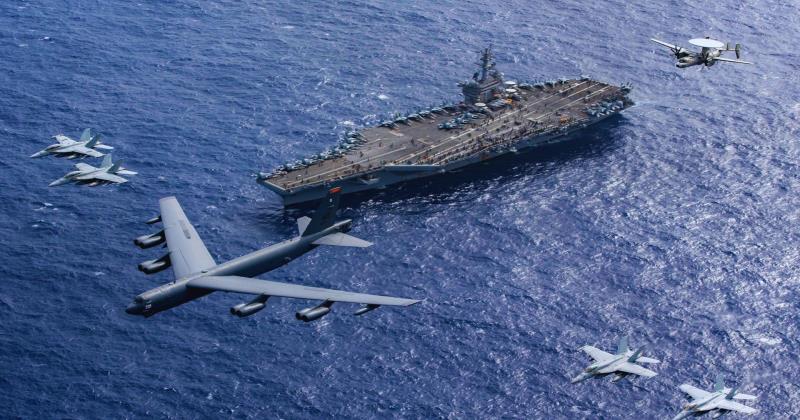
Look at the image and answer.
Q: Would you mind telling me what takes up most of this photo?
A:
water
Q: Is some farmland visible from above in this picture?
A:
No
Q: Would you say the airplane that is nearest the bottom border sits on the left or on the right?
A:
right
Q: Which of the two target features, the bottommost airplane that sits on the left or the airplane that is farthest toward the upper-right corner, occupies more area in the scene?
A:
the bottommost airplane that sits on the left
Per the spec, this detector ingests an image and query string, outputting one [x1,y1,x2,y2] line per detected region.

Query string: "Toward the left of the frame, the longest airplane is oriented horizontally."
[124,187,420,325]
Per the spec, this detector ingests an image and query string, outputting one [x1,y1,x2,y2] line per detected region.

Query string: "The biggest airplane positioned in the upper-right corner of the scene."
[652,35,754,70]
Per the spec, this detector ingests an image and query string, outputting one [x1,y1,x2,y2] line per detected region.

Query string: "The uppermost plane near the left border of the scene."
[31,126,116,158]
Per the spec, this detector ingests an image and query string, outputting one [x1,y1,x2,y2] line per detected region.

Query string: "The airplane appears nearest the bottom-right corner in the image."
[672,372,759,420]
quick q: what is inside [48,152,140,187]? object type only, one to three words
airplane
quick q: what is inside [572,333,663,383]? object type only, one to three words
airplane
